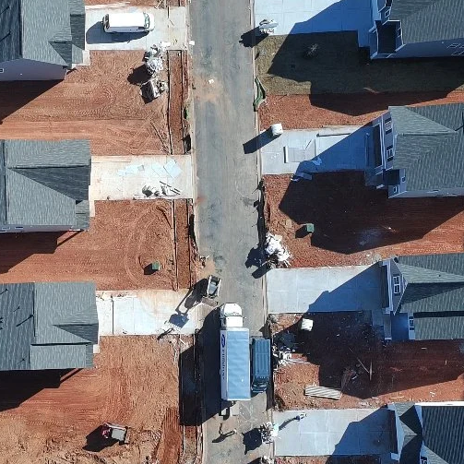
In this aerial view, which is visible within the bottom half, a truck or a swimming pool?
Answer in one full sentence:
Visible within the bottom half is a truck.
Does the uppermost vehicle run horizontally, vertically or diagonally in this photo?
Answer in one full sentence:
From this overhead view, the uppermost vehicle appears to run horizontally.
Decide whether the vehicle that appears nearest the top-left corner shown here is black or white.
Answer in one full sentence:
The vehicle that appears nearest the top-left corner is white.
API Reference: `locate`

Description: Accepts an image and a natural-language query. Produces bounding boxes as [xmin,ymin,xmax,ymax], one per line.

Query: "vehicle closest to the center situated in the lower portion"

[204,273,226,306]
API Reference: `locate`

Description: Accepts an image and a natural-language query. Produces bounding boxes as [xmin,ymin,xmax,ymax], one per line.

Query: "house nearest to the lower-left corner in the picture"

[0,281,99,372]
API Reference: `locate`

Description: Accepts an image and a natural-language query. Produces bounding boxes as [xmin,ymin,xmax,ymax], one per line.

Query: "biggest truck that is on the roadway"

[221,298,257,417]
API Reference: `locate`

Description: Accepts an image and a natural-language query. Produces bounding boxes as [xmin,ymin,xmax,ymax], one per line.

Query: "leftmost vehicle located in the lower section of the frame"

[95,422,130,445]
